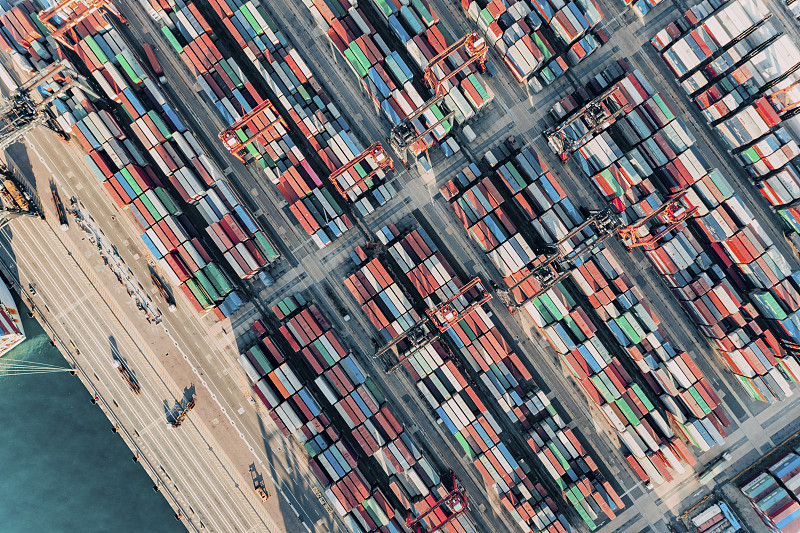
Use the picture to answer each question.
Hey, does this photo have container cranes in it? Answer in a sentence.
Yes, there's a container crane down there.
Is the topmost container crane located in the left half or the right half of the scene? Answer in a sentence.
The topmost container crane appears in the left half of the scene.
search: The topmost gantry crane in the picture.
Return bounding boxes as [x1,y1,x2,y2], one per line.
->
[32,0,132,64]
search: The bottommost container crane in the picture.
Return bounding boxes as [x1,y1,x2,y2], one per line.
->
[405,461,475,533]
